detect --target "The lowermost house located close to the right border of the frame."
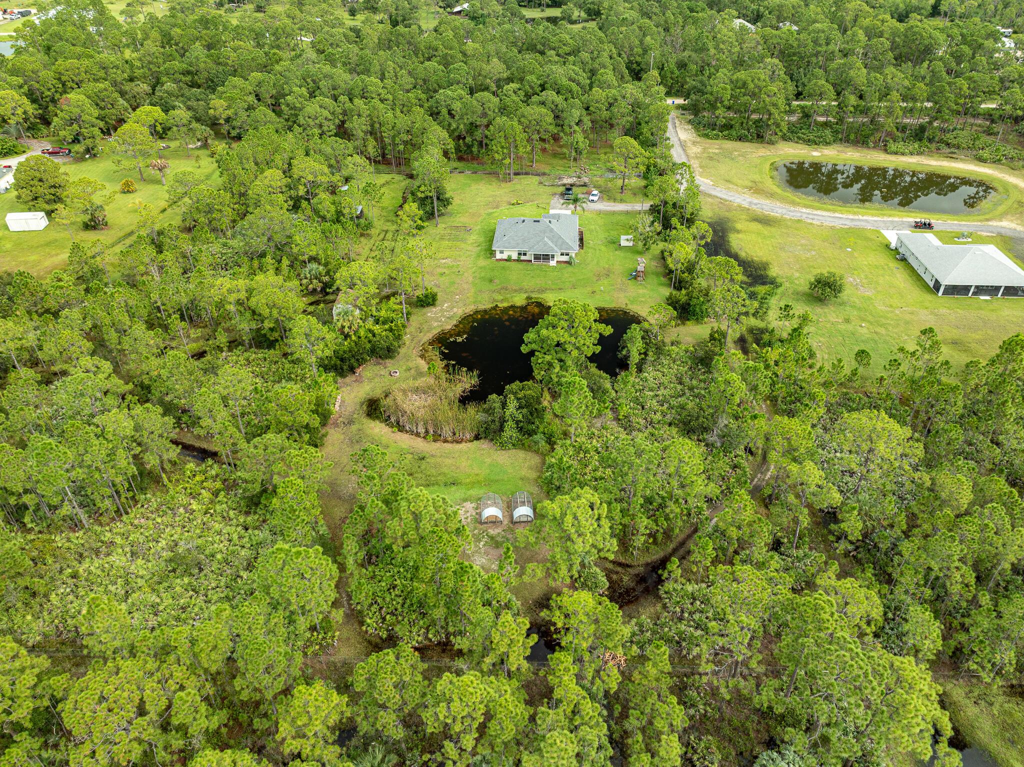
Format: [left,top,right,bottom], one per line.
[895,232,1024,305]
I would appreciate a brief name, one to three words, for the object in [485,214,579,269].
house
